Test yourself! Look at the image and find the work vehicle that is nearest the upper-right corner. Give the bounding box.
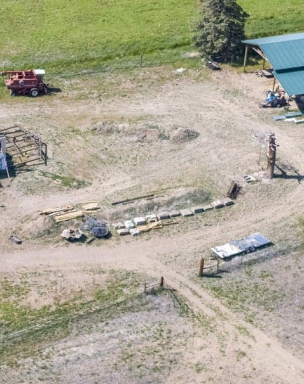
[259,90,287,108]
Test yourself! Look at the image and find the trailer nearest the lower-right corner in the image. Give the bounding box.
[210,233,271,261]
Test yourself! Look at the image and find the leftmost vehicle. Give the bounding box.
[0,70,51,101]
